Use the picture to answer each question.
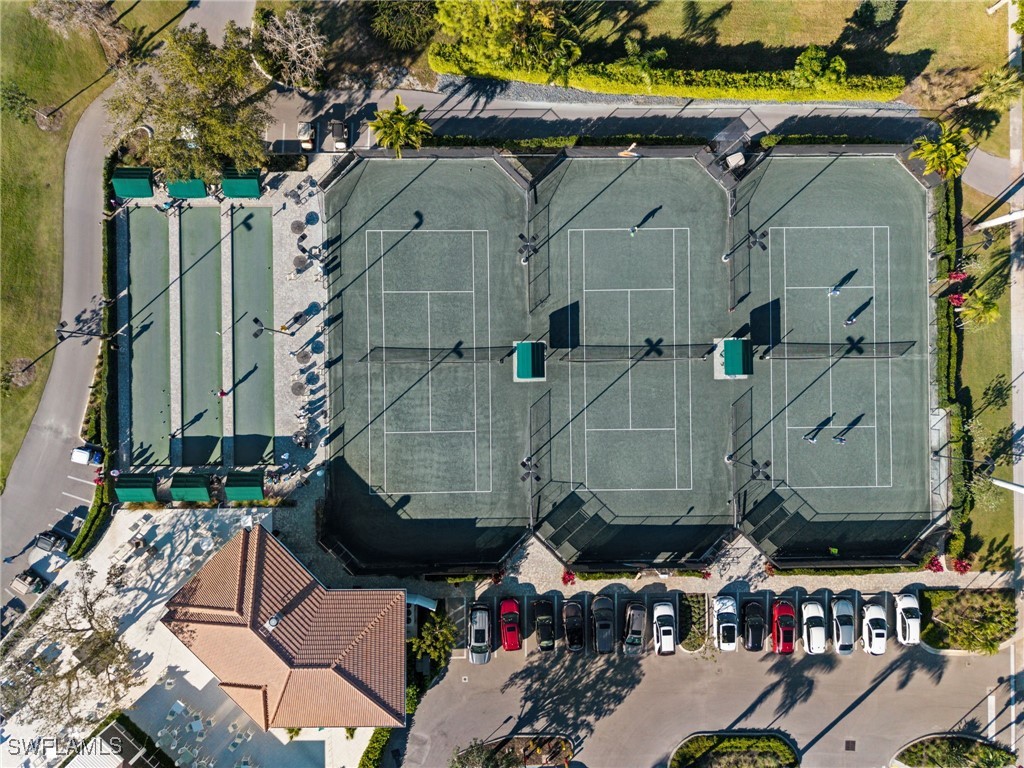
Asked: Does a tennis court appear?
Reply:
Yes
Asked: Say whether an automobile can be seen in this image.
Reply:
Yes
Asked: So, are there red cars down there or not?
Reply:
Yes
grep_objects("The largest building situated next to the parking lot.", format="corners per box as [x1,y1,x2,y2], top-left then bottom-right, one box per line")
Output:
[158,523,408,733]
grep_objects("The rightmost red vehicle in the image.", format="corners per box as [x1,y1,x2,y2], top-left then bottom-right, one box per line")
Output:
[770,599,797,654]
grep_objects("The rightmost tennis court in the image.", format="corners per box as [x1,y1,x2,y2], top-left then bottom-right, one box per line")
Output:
[730,158,931,558]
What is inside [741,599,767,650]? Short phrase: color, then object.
black car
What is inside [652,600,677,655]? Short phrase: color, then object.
white car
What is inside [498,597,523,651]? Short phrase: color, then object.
red car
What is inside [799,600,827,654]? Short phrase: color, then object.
white car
